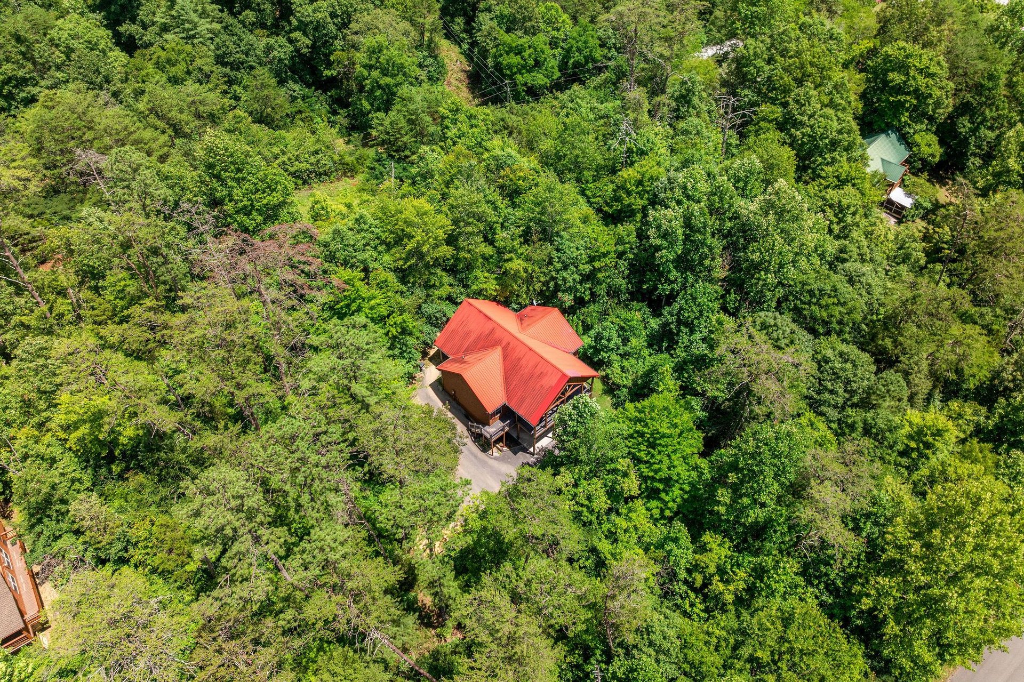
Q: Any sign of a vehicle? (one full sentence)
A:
No, there isn't any vehicle down there.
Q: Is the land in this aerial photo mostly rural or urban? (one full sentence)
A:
The land in this view is best described as rural.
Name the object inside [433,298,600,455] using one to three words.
building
